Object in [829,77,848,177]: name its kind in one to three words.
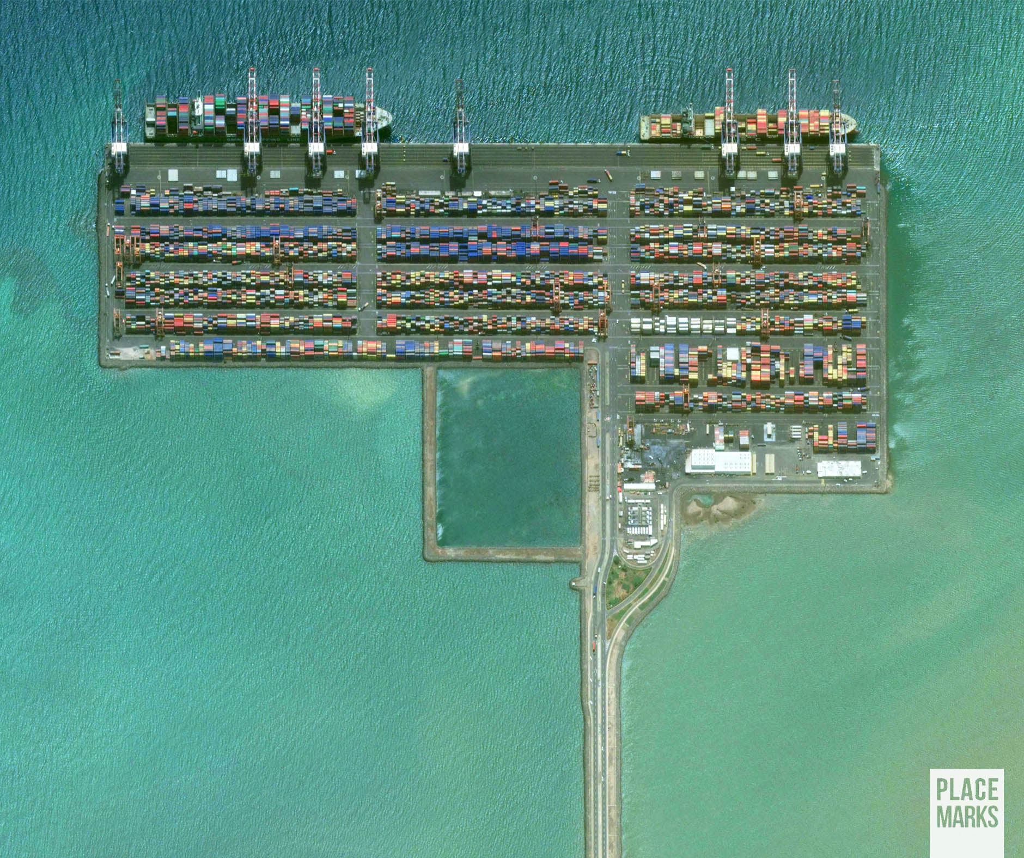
container crane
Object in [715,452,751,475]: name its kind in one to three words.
building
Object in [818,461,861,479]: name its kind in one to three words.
shed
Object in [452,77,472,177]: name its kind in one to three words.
container crane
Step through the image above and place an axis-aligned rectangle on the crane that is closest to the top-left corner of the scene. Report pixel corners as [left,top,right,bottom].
[109,77,129,177]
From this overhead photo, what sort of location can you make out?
port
